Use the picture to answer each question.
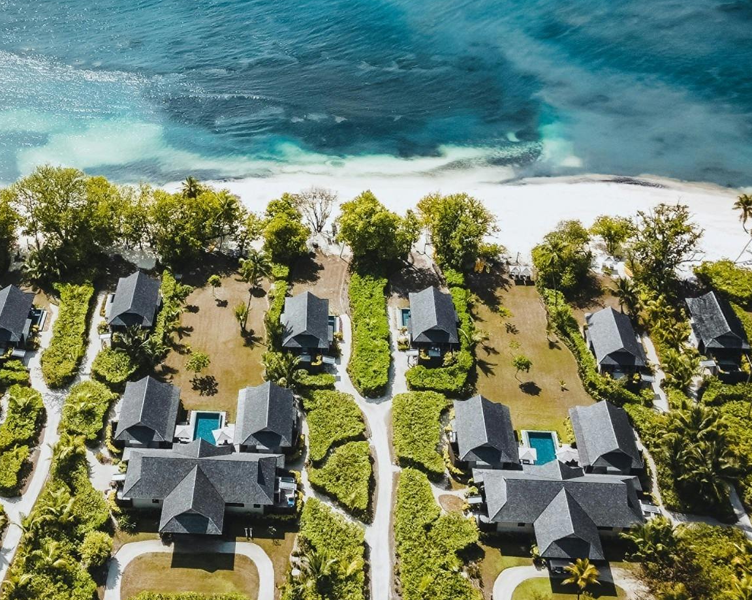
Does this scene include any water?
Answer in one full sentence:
Yes, there's water in this view.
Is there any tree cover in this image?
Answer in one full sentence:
Yes, there is tree cover in the image.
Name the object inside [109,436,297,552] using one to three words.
house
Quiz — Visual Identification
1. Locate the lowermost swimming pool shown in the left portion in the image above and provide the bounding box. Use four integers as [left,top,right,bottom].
[174,410,236,454]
